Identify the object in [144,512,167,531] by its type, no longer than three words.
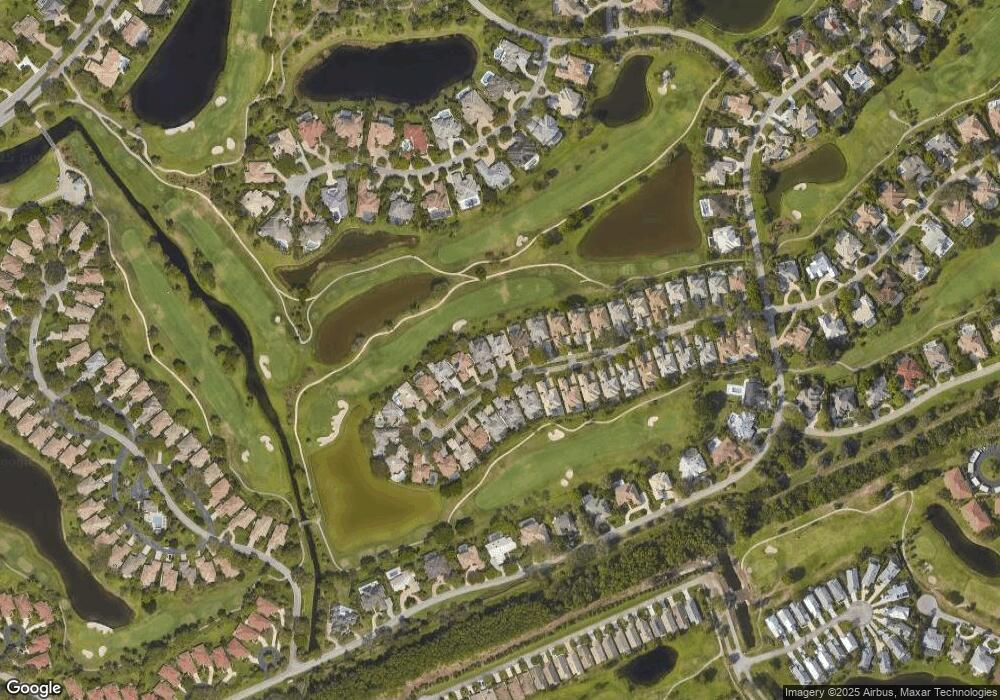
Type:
swimming pool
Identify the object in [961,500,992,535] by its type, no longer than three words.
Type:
building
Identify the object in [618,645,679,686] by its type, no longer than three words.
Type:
pond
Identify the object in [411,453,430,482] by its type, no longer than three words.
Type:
house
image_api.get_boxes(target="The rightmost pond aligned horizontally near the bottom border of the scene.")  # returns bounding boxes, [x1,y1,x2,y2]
[836,672,976,700]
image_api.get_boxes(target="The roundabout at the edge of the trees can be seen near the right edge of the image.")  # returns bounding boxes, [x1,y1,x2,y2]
[974,448,1000,488]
